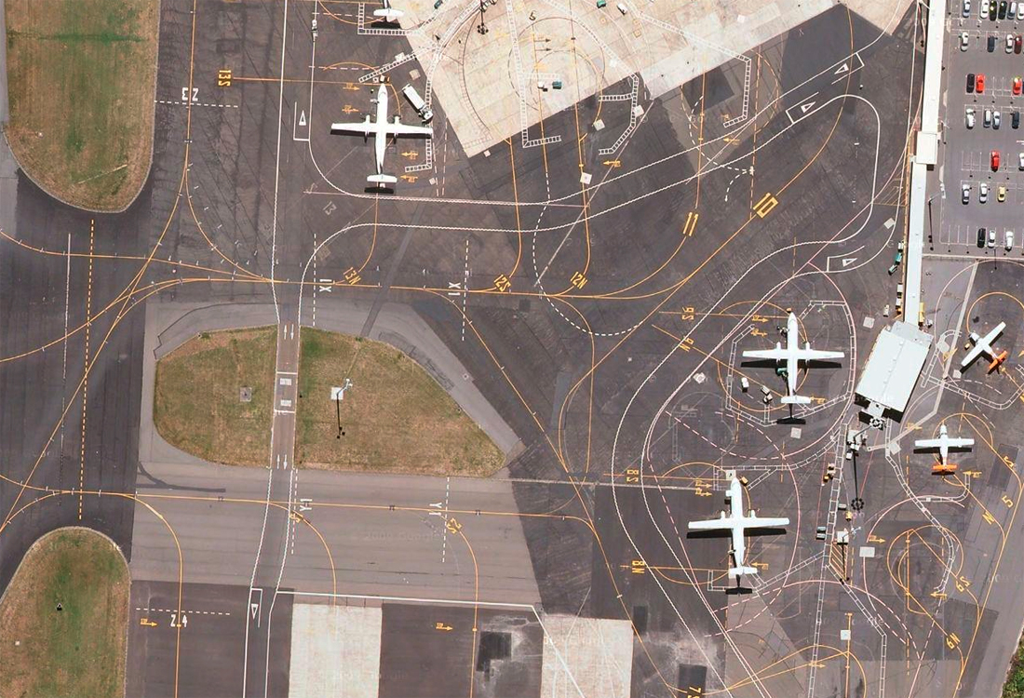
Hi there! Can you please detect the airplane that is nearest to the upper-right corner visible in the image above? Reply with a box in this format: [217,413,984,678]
[964,325,1007,370]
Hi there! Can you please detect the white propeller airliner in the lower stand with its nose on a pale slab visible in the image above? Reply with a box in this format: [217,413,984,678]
[686,478,791,575]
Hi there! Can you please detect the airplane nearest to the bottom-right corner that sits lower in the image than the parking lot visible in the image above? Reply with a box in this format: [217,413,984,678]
[916,423,975,470]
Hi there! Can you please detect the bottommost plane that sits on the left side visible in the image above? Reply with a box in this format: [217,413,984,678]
[331,85,432,176]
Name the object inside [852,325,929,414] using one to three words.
building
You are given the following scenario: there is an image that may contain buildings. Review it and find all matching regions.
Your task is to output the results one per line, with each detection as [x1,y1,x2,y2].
[852,325,929,414]
[919,0,946,133]
[902,163,927,328]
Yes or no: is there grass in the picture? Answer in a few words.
Yes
